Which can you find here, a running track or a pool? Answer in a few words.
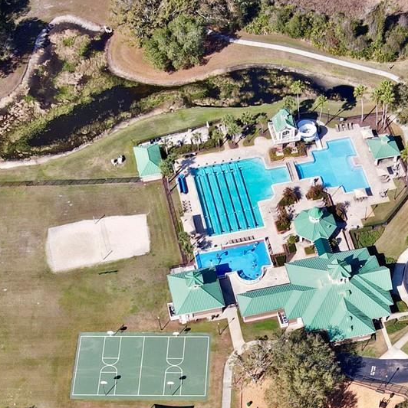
pool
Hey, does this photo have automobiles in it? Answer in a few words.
No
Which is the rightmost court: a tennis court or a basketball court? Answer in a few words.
basketball court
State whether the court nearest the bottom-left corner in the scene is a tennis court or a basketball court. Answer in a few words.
basketball court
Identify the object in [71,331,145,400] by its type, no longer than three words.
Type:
basketball court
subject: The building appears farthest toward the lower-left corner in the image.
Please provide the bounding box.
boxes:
[168,267,226,321]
